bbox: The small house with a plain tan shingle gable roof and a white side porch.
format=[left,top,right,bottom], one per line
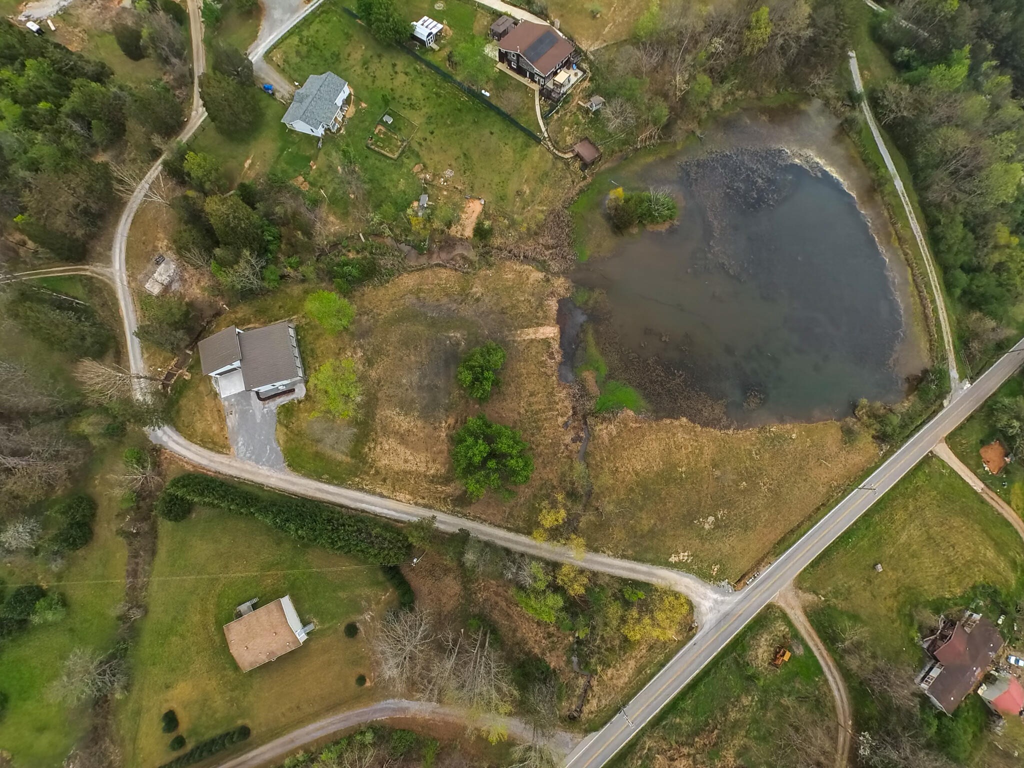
[223,594,318,673]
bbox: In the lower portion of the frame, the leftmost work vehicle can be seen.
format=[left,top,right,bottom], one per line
[766,644,790,670]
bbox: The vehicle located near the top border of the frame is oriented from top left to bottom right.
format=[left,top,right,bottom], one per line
[24,21,44,39]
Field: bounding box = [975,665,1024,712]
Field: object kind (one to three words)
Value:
shed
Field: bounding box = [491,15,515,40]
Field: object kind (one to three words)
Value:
gazebo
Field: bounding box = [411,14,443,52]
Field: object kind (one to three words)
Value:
shed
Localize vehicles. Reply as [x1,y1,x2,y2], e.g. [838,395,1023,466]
[766,644,790,670]
[153,255,165,265]
[24,21,44,39]
[1005,654,1024,668]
